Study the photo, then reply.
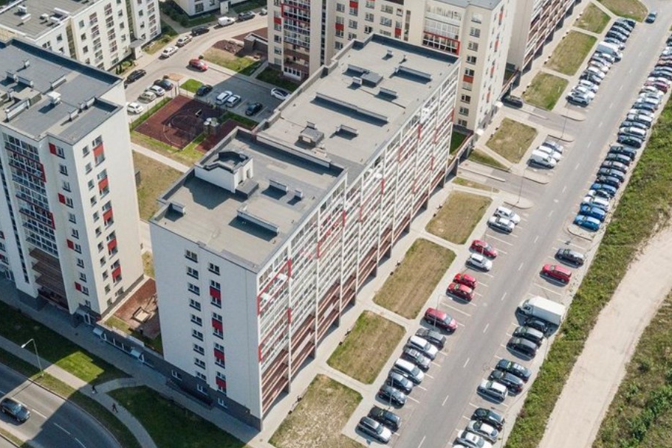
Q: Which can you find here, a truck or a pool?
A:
truck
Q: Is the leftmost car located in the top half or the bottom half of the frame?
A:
bottom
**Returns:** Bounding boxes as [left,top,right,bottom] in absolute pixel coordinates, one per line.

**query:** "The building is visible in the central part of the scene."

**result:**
[147,31,464,431]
